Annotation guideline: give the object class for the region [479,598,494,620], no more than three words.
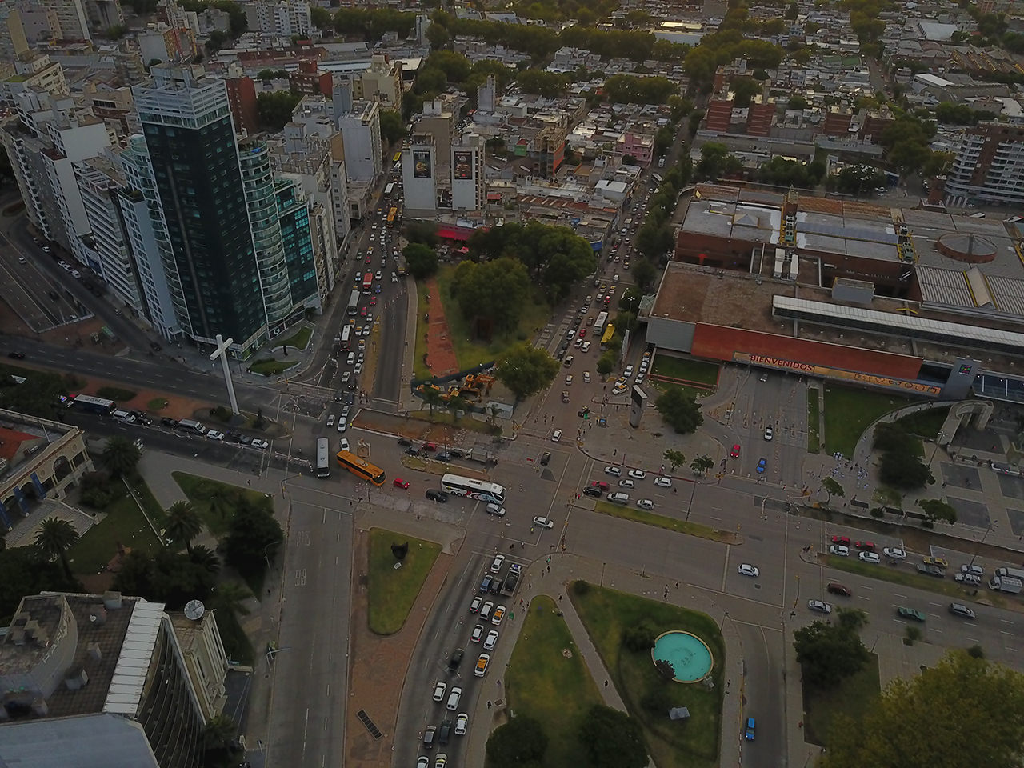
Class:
car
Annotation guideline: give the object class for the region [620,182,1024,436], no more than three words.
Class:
building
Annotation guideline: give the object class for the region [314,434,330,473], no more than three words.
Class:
vehicle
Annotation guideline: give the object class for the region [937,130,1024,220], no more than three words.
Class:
building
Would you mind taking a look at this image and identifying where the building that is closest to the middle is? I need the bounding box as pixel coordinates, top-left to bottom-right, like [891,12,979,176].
[487,400,513,425]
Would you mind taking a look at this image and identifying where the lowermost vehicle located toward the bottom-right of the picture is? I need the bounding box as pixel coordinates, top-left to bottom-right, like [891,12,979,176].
[744,712,759,742]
